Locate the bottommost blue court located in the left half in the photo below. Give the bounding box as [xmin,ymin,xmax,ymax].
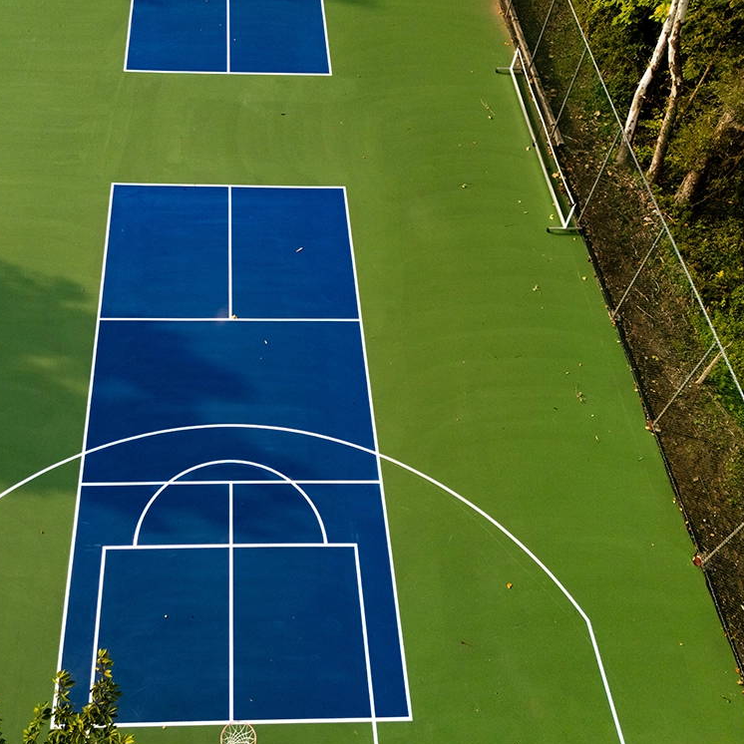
[53,184,413,728]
